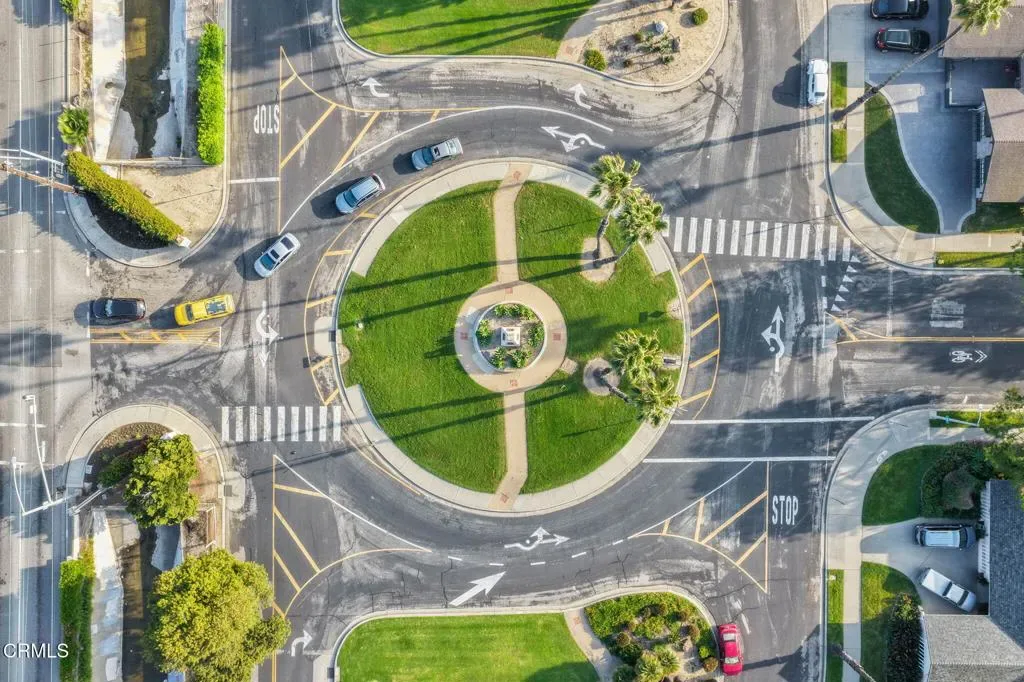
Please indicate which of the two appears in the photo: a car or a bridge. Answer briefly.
car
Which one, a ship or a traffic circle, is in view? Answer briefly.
traffic circle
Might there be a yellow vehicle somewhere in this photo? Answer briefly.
Yes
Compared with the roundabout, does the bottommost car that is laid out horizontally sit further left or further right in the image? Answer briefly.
right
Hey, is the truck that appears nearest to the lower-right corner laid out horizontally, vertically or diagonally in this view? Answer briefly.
diagonally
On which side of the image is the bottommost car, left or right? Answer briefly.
right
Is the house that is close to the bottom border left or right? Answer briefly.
right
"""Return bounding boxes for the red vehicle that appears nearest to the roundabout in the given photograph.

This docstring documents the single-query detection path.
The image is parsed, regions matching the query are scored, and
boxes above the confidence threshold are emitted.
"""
[718,624,744,678]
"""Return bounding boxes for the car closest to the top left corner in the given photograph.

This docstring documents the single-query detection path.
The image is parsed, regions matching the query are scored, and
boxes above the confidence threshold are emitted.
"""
[88,296,144,321]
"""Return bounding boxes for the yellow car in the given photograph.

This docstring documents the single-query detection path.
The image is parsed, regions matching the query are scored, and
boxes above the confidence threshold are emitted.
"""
[173,295,235,326]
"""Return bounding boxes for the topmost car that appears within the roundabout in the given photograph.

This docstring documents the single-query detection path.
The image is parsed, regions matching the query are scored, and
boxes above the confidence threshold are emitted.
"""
[408,137,465,169]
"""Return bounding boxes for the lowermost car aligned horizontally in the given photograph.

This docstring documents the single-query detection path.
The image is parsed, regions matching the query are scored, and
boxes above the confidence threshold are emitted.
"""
[914,525,973,551]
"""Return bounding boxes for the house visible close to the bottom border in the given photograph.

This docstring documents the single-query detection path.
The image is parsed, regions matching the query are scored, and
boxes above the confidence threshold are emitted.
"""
[926,479,1024,682]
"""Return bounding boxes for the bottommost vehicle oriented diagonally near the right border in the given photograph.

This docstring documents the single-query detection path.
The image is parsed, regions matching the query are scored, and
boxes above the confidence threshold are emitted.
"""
[918,567,975,613]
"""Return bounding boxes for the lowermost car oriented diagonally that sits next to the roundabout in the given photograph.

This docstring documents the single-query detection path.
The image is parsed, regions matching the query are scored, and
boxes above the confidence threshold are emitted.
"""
[252,231,300,279]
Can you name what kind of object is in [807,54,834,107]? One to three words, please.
car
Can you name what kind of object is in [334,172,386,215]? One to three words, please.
car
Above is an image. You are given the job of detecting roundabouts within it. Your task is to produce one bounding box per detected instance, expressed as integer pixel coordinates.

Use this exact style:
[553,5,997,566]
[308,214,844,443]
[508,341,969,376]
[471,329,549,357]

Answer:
[286,113,735,562]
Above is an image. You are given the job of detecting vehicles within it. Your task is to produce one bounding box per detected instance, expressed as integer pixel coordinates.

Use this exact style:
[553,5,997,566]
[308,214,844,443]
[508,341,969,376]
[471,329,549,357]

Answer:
[334,172,386,215]
[914,525,973,551]
[88,296,144,321]
[252,231,300,279]
[876,24,930,50]
[408,137,465,169]
[807,54,834,107]
[718,624,744,678]
[173,295,235,326]
[871,0,930,19]
[918,567,975,613]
